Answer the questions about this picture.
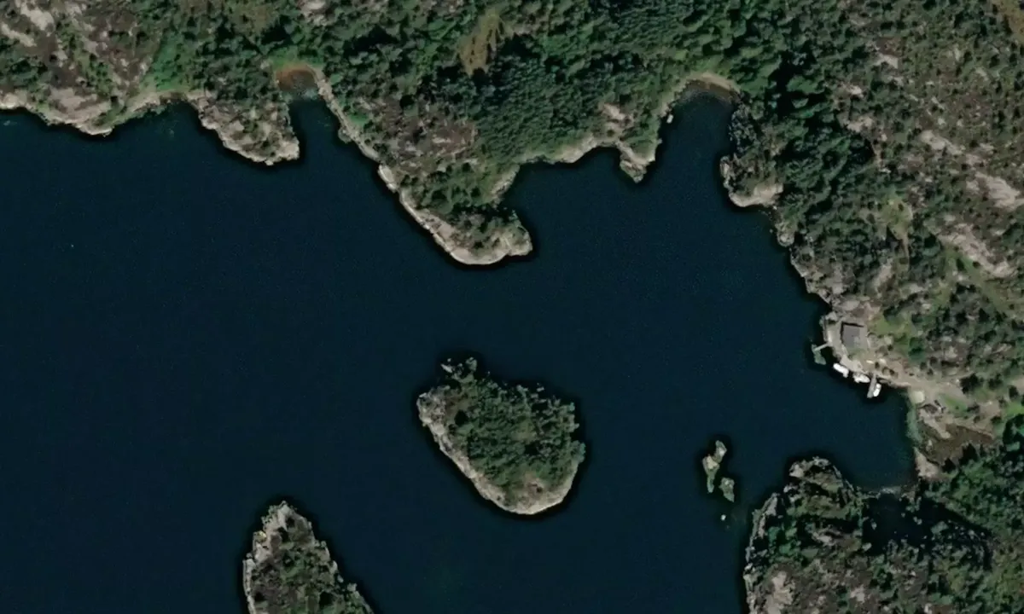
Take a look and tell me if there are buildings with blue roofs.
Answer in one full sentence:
No, this view has no building with a blue roof in it.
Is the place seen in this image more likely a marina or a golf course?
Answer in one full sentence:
It's a marina.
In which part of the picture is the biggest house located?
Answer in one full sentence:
The biggest house is located in the right region of the scene.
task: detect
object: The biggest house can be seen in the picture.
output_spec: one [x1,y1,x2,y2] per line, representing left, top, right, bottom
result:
[842,324,867,349]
